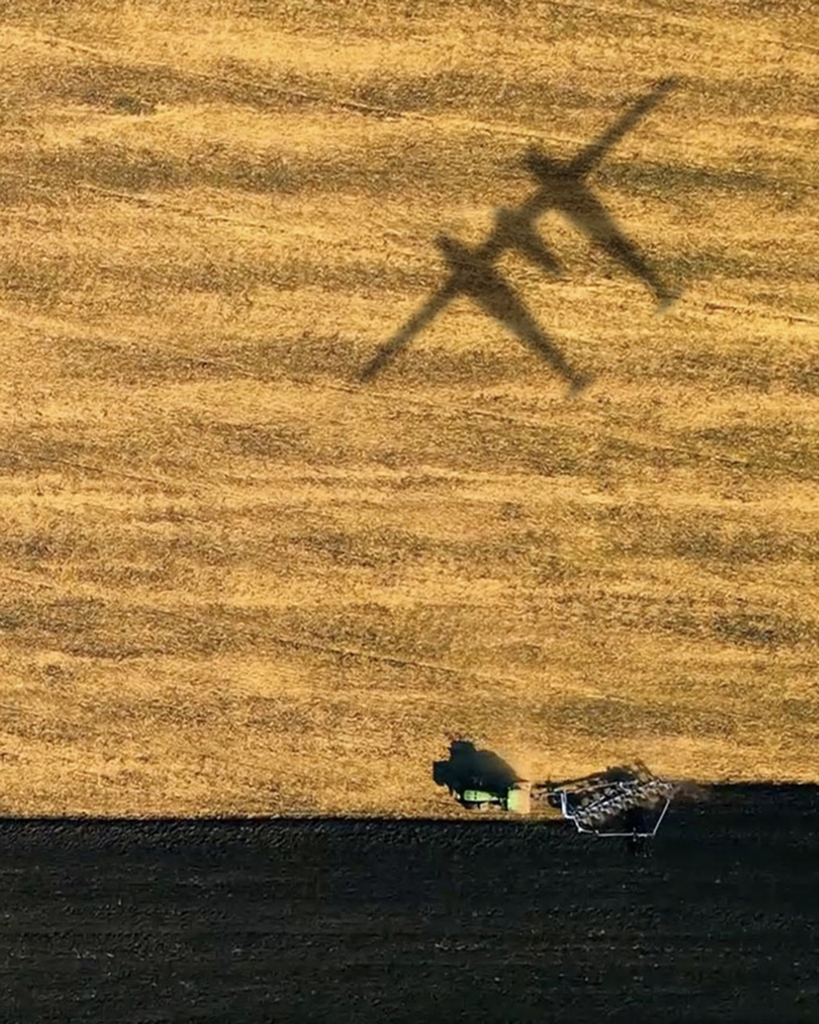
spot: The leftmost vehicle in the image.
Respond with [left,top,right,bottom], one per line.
[456,773,535,814]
